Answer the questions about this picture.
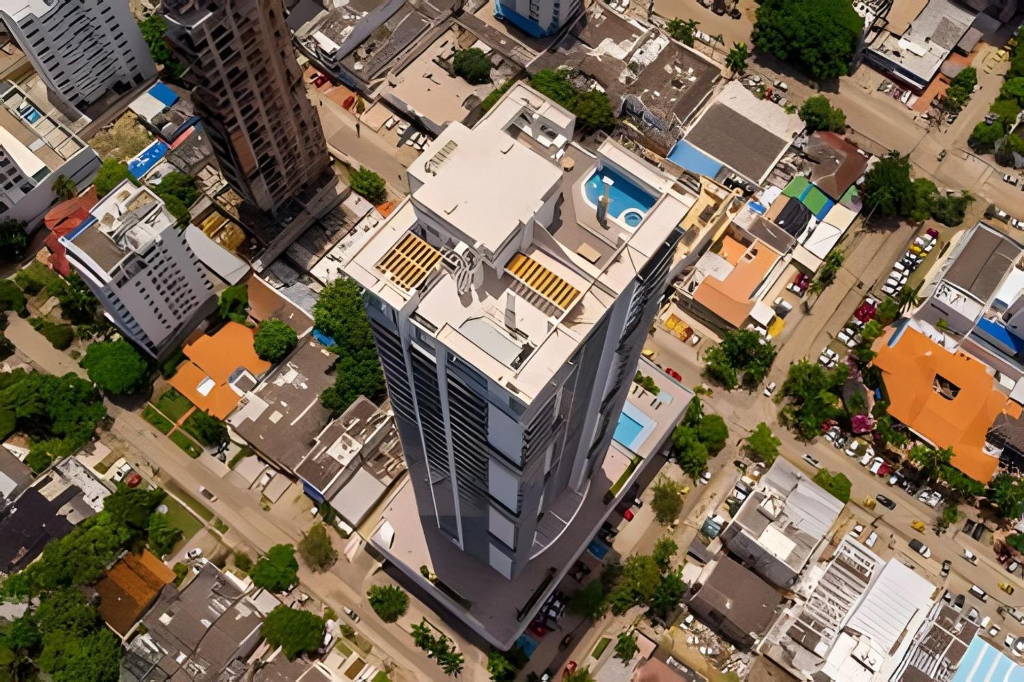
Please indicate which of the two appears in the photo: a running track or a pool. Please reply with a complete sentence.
The image shows a pool.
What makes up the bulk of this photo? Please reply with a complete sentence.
Most of the picture is covered by buildings.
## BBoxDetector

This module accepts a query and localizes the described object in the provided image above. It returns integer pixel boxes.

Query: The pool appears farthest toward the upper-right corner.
[583,163,659,227]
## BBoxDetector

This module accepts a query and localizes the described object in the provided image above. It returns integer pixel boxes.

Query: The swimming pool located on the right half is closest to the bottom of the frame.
[616,413,644,448]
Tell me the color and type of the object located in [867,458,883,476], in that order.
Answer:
white car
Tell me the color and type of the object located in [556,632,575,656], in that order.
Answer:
black car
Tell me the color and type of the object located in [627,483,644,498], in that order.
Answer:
black car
